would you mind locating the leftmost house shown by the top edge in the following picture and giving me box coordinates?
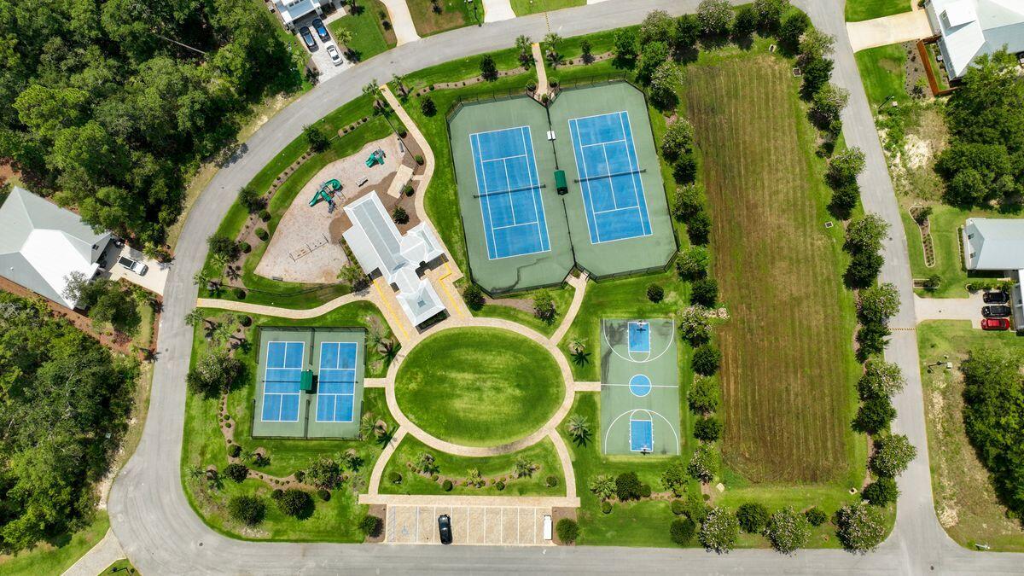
[272,0,330,31]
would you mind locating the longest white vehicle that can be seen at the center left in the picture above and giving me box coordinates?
[116,254,152,276]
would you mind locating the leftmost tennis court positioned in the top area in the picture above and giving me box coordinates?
[449,97,576,296]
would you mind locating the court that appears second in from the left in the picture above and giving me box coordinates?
[306,329,365,439]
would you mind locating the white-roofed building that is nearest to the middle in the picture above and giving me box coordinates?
[342,191,446,327]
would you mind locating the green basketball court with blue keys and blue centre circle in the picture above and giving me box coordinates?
[601,319,681,455]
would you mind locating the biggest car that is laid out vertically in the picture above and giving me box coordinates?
[437,513,452,546]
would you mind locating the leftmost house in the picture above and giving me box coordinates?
[0,186,116,308]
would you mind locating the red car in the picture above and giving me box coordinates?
[981,318,1008,330]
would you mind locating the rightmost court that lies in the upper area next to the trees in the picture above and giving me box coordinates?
[547,82,678,280]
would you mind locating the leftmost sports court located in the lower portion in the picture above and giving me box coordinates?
[253,329,312,438]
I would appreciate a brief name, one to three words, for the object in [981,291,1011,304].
vehicle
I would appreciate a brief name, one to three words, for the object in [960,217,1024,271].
house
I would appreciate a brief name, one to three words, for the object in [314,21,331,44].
car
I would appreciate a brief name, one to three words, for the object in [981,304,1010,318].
car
